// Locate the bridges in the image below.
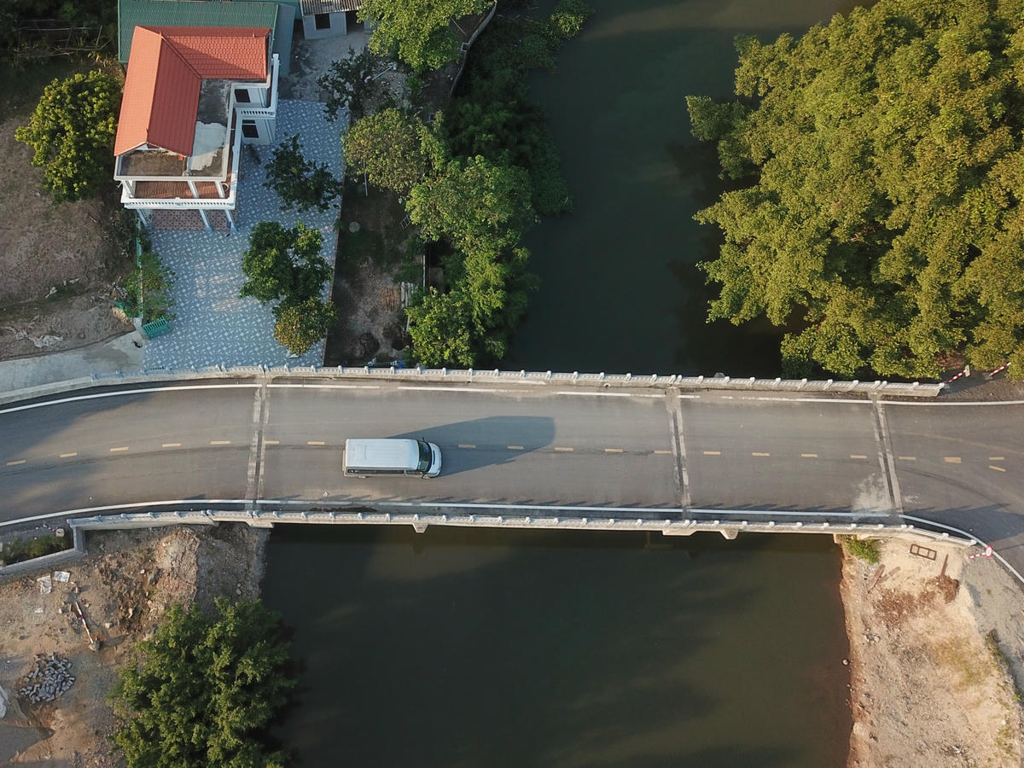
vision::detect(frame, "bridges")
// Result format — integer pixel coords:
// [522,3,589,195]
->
[68,363,975,549]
